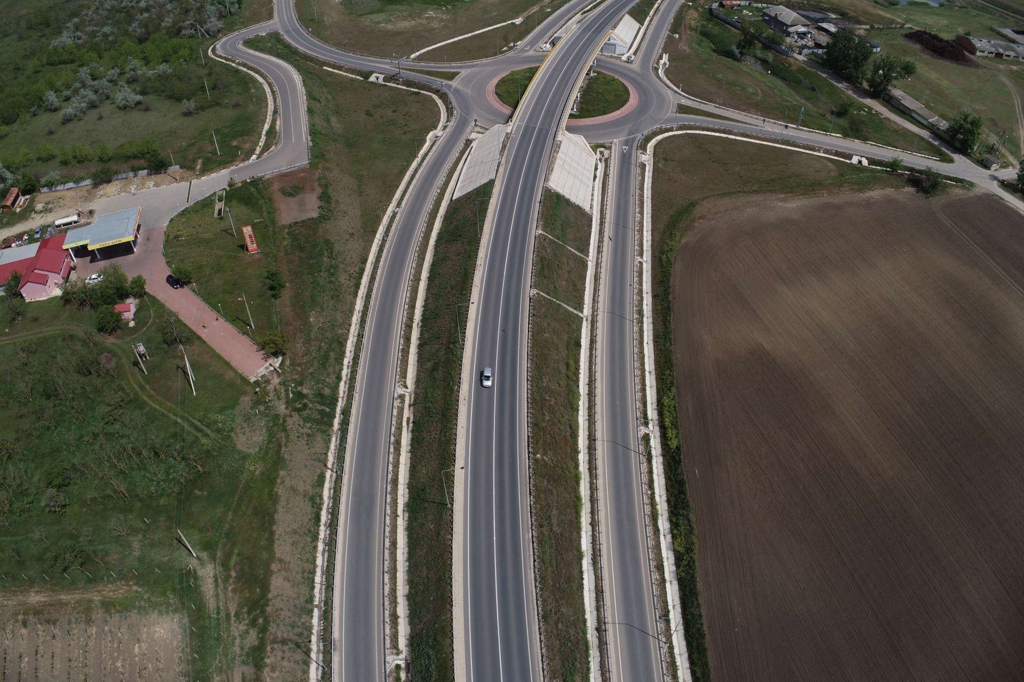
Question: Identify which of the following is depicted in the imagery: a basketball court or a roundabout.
roundabout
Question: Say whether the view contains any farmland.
Yes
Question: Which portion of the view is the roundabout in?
top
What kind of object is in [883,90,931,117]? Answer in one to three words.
shed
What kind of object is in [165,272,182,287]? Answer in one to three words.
car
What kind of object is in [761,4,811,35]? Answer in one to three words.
house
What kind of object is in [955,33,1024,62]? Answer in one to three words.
barn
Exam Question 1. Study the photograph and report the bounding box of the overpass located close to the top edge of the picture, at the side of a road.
[452,11,640,214]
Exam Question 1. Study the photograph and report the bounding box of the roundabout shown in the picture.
[390,46,758,146]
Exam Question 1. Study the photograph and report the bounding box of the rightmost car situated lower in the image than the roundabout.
[480,364,492,386]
